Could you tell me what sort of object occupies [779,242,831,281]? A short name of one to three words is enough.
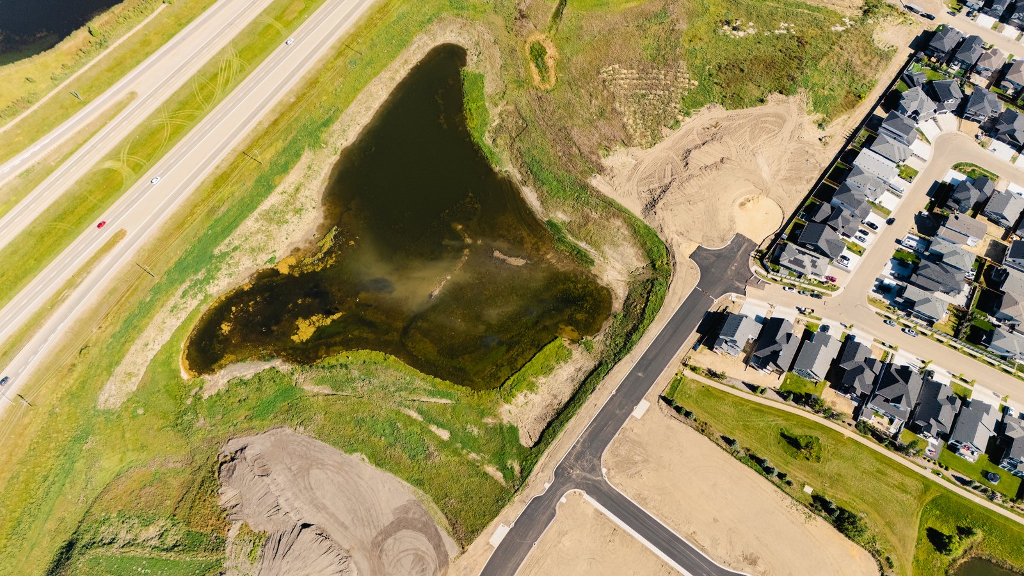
house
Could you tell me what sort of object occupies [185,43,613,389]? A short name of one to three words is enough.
pond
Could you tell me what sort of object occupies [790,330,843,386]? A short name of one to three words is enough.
house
